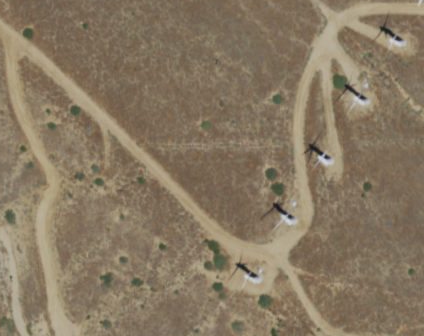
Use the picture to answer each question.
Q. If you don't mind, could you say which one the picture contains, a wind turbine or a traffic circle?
wind turbine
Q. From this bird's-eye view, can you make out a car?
No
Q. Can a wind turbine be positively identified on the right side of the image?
Yes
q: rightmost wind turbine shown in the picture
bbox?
[382,30,408,58]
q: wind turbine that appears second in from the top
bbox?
[345,88,373,116]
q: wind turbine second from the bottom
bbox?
[270,208,300,234]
